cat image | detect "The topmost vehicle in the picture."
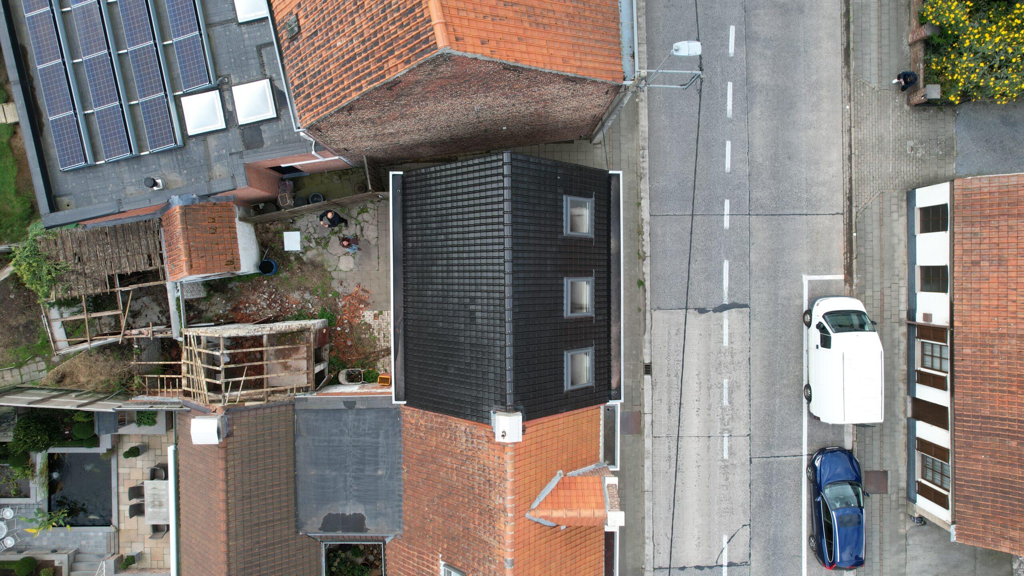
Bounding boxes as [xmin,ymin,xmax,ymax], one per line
[802,296,881,424]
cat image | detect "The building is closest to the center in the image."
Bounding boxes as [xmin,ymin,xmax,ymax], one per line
[390,147,624,427]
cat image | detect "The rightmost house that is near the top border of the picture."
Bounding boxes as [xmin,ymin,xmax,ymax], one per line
[262,0,637,170]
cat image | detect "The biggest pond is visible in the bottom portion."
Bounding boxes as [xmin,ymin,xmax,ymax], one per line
[29,444,125,532]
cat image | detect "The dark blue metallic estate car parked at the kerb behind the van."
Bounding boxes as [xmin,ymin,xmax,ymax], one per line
[806,444,873,571]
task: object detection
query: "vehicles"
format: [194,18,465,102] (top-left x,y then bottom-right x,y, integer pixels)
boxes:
[806,444,873,571]
[802,296,881,424]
